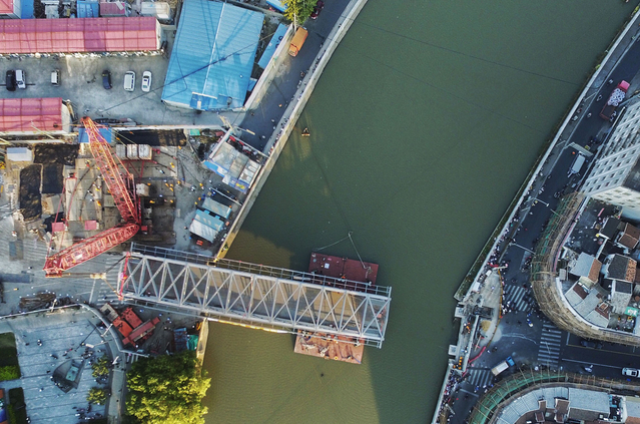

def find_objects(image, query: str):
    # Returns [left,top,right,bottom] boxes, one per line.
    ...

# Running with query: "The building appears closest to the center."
[231,157,261,193]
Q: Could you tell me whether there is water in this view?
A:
Yes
